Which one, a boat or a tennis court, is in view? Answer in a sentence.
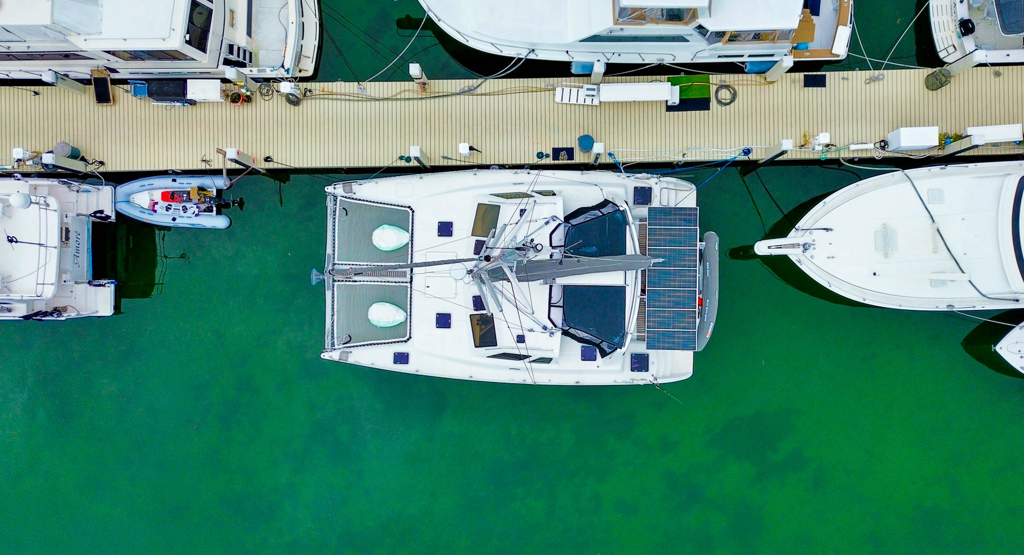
This aerial view contains a boat.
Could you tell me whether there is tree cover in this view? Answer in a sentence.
No, no tree cover is visible.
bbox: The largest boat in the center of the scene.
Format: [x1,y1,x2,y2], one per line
[310,168,703,392]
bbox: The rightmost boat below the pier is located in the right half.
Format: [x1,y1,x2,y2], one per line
[992,322,1024,377]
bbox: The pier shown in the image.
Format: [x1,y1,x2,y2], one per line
[0,66,1024,174]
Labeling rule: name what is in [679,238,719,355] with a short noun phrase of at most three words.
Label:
boat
